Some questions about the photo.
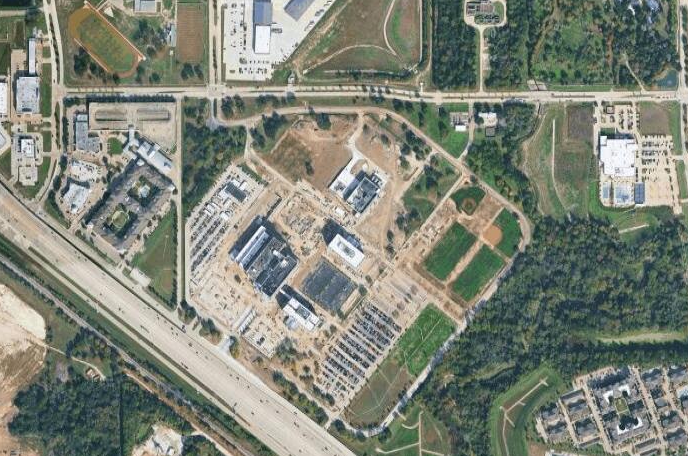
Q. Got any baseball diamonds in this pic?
Yes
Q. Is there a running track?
Yes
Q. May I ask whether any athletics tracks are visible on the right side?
No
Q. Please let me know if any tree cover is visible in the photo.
Yes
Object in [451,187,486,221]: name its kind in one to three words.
baseball field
